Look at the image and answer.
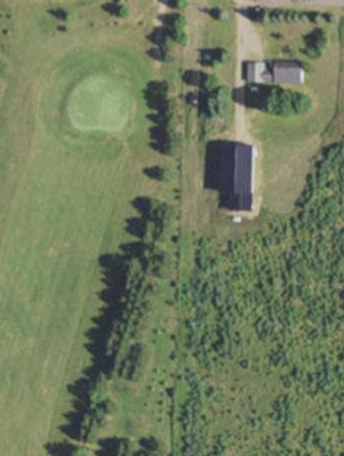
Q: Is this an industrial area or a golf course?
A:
golf course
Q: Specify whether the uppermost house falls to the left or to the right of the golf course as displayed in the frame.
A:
on its right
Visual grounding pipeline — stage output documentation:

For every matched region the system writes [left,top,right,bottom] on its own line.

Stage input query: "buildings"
[219,145,256,210]
[248,60,303,84]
